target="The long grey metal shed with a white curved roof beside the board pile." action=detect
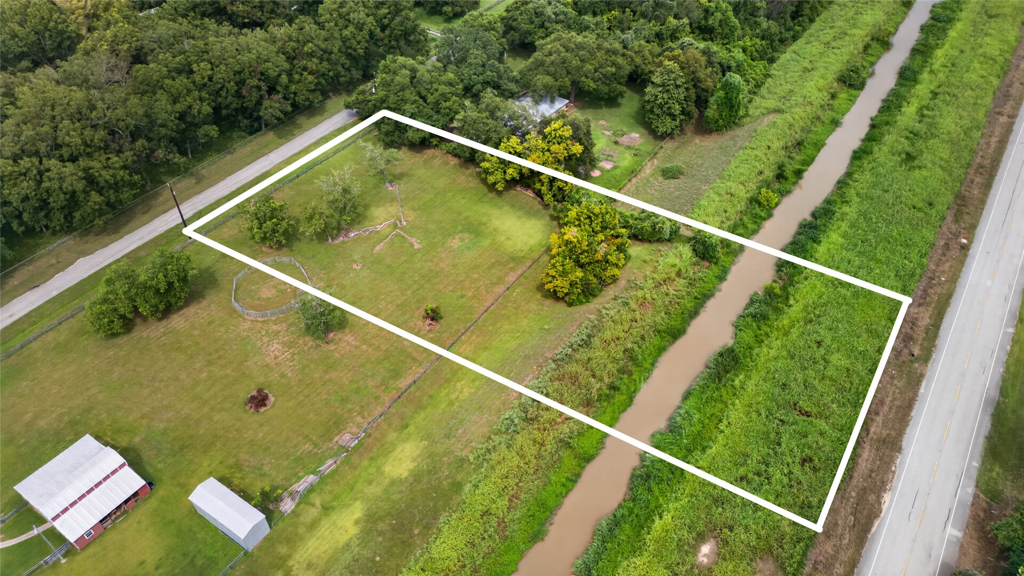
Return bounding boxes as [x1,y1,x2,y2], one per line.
[192,480,270,551]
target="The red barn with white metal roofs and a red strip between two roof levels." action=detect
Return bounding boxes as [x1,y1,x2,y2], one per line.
[12,433,151,550]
